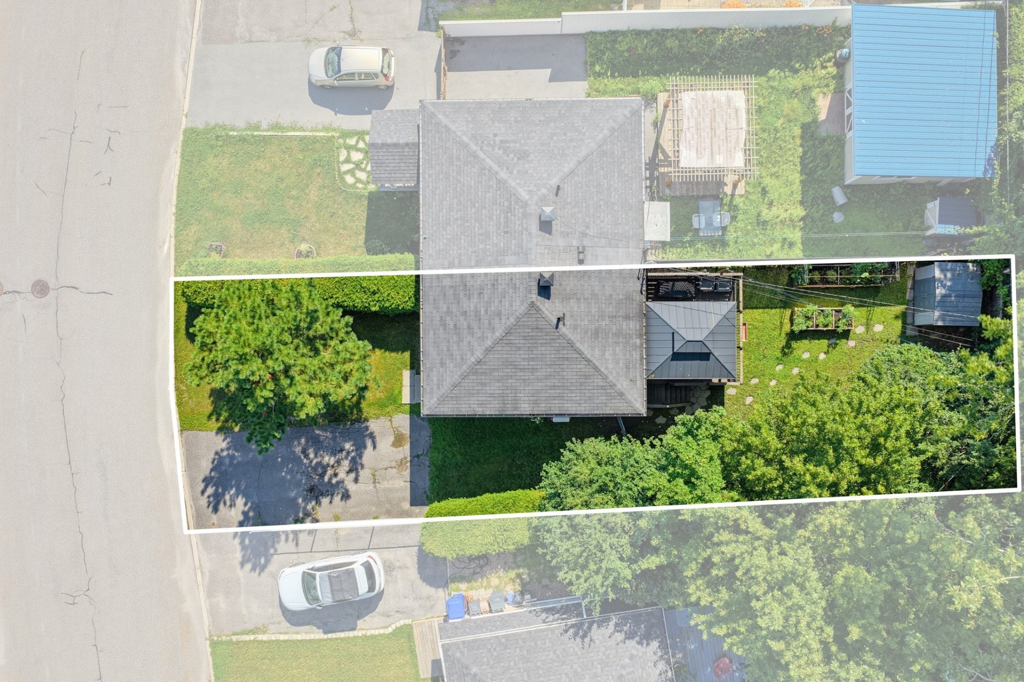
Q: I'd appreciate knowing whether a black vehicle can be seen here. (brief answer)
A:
No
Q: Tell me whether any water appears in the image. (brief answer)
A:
No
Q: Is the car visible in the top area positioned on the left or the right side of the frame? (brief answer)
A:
left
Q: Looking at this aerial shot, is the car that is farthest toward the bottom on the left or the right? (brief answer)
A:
left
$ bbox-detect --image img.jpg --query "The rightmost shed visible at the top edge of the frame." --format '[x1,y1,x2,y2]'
[843,4,997,185]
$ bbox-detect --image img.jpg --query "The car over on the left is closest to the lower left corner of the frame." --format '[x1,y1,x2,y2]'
[280,554,386,609]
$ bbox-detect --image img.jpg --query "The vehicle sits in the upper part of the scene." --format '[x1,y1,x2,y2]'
[307,40,396,90]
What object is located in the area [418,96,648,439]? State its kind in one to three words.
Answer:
house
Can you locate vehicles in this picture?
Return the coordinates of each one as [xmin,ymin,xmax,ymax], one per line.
[280,554,386,609]
[307,40,396,90]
